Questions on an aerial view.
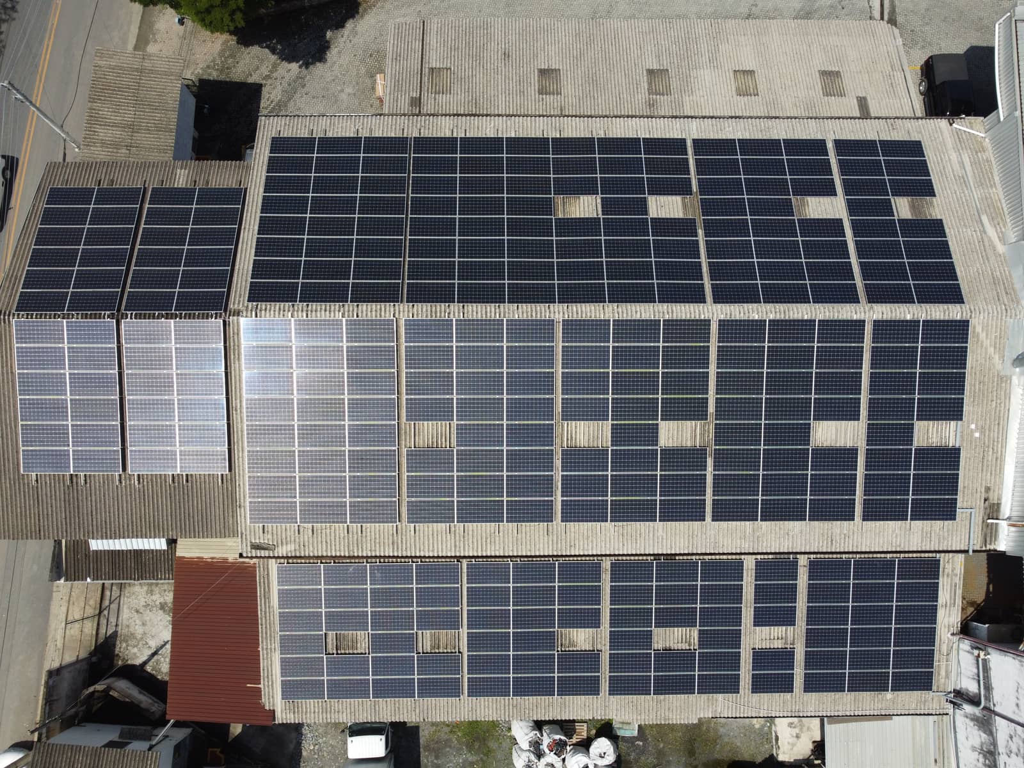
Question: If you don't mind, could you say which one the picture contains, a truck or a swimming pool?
truck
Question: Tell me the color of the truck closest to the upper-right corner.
black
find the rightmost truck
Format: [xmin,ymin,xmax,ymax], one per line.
[921,61,975,120]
